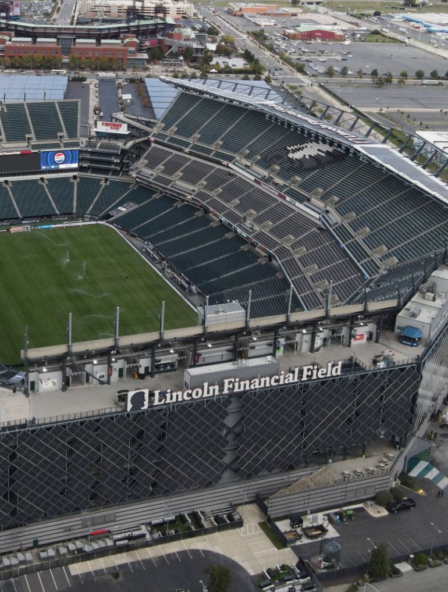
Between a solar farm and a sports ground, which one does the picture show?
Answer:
sports ground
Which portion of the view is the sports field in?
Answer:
left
